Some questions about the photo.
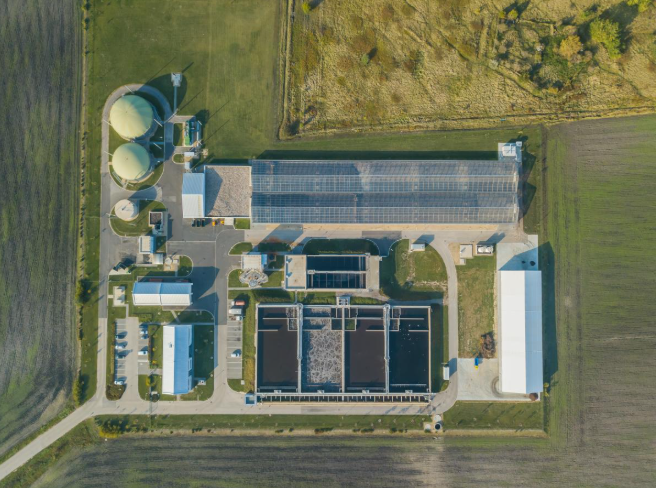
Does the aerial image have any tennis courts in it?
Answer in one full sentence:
No, the photo shows no tennis court.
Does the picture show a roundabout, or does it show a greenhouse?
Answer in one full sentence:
Visible in the photo is a greenhouse.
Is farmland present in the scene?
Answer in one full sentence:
Yes, farmland shows up in the scene.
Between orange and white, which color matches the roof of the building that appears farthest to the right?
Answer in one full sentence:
From above, the roof of the building that appears farthest to the right appears white.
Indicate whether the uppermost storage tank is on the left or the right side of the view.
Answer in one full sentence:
You can find the uppermost storage tank on the left side of the picture.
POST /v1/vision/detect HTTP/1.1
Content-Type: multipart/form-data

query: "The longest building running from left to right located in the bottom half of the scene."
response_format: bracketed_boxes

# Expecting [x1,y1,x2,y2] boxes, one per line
[130,282,194,306]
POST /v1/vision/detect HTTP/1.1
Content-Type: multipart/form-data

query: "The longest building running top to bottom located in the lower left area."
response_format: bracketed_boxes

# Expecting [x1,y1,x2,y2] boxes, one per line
[162,323,193,396]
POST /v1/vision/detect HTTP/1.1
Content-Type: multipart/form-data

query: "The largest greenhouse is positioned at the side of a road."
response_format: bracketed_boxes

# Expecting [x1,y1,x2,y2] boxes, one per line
[251,159,521,224]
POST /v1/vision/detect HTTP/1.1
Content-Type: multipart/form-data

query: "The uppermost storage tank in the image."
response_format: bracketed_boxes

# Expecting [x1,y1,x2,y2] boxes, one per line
[110,95,160,144]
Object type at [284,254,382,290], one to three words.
storage tank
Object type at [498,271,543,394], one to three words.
building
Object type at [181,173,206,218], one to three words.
building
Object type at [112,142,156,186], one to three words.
storage tank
